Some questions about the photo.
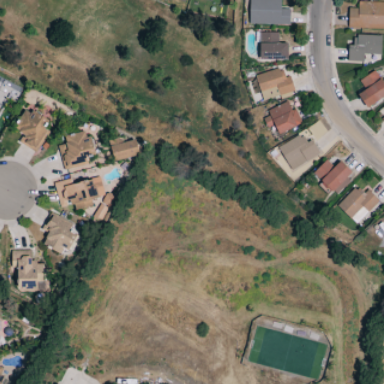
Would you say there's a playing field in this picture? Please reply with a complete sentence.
Yes, looking at the shot, I can spot a playing field.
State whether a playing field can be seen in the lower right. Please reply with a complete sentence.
Yes, I can see a playing field in the lower right.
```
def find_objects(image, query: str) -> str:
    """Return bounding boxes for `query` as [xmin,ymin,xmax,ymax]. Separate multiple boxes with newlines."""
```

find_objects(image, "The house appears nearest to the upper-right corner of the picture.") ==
[349,0,384,28]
